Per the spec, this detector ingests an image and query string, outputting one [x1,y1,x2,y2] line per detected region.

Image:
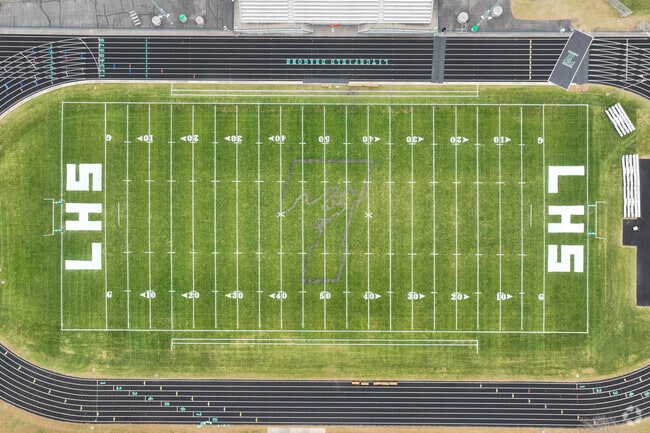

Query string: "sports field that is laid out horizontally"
[61,83,588,354]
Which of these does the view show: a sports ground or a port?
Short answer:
sports ground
